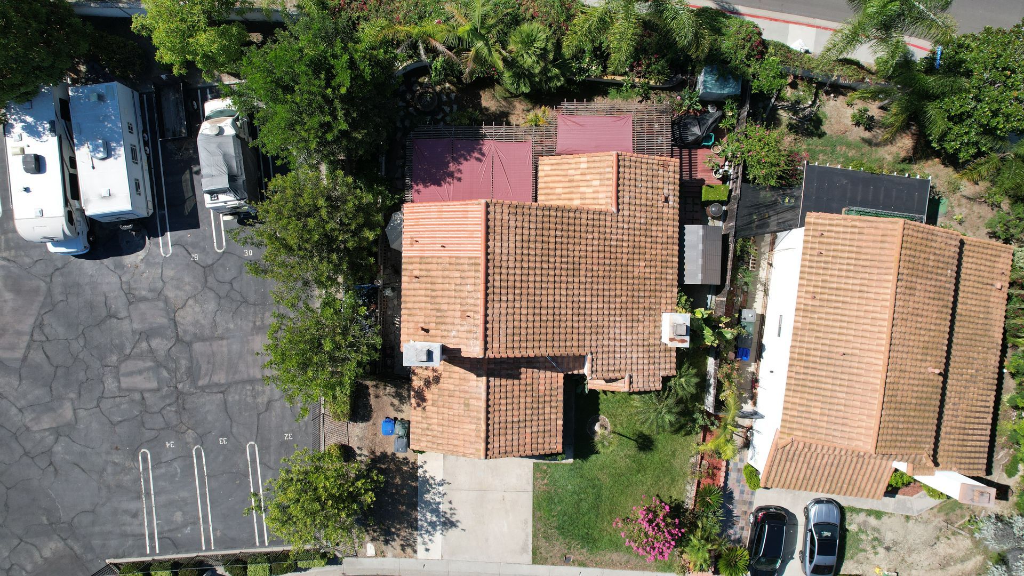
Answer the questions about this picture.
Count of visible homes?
2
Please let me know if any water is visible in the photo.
No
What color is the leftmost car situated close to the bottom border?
black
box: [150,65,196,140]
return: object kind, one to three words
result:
trailer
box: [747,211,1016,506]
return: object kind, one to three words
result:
house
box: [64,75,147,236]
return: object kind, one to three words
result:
trailer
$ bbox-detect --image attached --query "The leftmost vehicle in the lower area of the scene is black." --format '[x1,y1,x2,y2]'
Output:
[746,510,791,576]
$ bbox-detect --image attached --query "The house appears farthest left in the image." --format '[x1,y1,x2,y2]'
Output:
[399,148,691,461]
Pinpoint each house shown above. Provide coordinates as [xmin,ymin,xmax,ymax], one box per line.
[747,211,1016,506]
[399,148,691,461]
